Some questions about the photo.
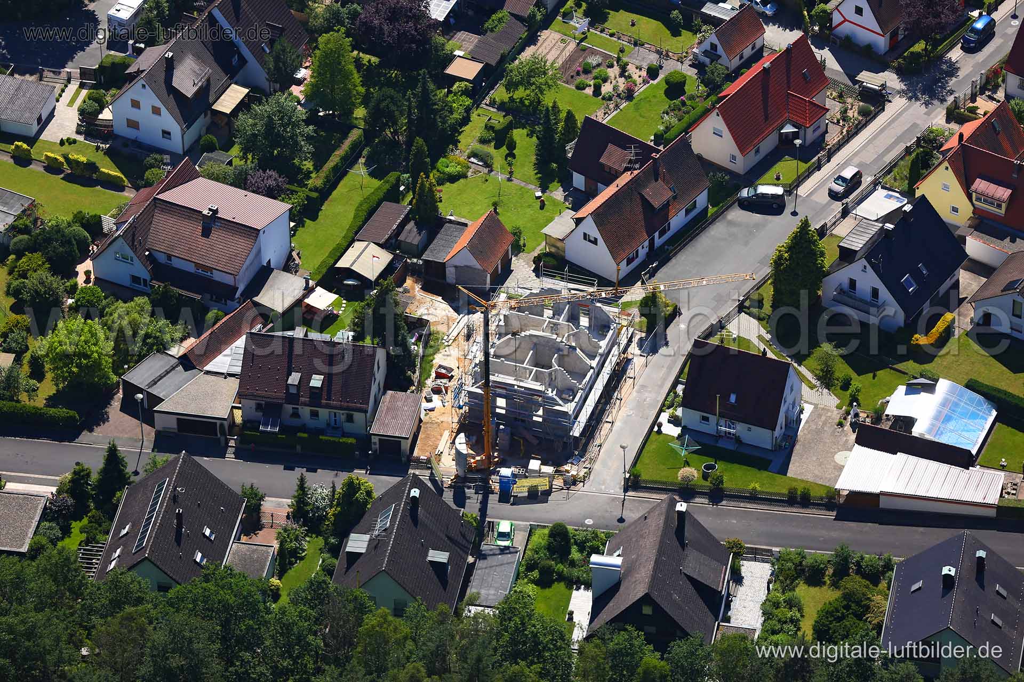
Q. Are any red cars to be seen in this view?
No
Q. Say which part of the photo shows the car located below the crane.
bottom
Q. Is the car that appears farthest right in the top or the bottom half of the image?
top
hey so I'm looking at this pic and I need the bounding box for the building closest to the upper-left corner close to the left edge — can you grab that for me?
[0,74,55,139]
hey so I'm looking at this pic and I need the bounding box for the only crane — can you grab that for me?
[449,255,756,481]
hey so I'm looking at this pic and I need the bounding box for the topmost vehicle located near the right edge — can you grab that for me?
[959,16,998,54]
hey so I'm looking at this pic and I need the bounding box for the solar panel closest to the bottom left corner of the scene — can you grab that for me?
[131,476,168,553]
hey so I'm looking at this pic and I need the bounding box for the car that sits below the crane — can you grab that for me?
[490,513,517,545]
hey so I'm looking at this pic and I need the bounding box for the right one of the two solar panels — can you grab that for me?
[370,502,393,539]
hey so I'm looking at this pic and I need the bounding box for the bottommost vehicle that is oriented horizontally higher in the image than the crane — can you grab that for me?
[737,187,786,210]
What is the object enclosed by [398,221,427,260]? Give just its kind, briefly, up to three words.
shed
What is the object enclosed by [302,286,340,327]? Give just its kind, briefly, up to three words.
gazebo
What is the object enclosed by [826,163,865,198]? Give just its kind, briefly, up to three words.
car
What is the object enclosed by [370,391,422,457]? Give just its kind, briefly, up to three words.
building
